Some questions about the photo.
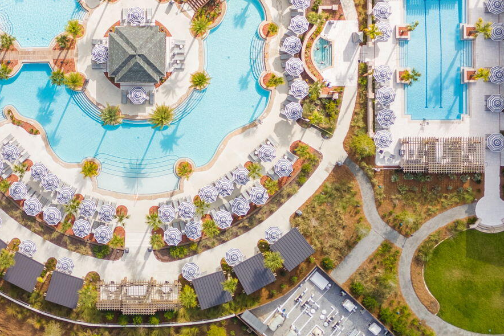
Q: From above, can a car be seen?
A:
No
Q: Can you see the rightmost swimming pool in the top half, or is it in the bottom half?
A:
top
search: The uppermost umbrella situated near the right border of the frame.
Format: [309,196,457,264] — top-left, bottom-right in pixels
[486,0,504,15]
